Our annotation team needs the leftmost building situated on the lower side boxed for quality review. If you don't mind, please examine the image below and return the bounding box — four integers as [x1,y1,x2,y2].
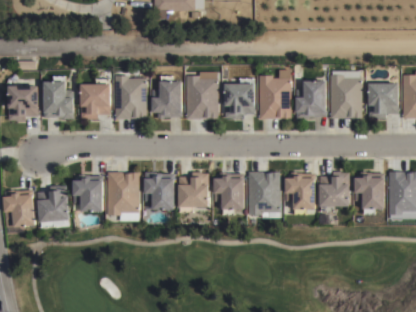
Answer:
[2,190,35,228]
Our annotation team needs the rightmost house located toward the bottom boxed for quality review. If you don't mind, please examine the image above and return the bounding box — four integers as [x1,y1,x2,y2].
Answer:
[389,171,416,220]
